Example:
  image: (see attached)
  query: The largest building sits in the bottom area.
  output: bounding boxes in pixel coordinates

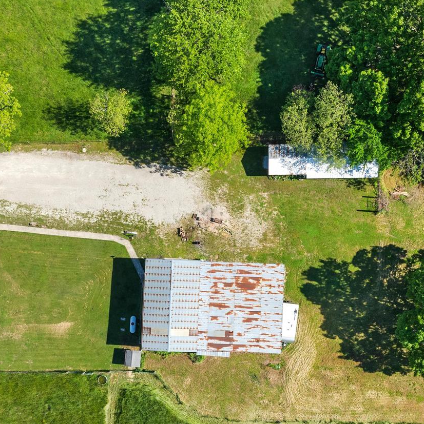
[142,259,284,357]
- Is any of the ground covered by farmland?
Yes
